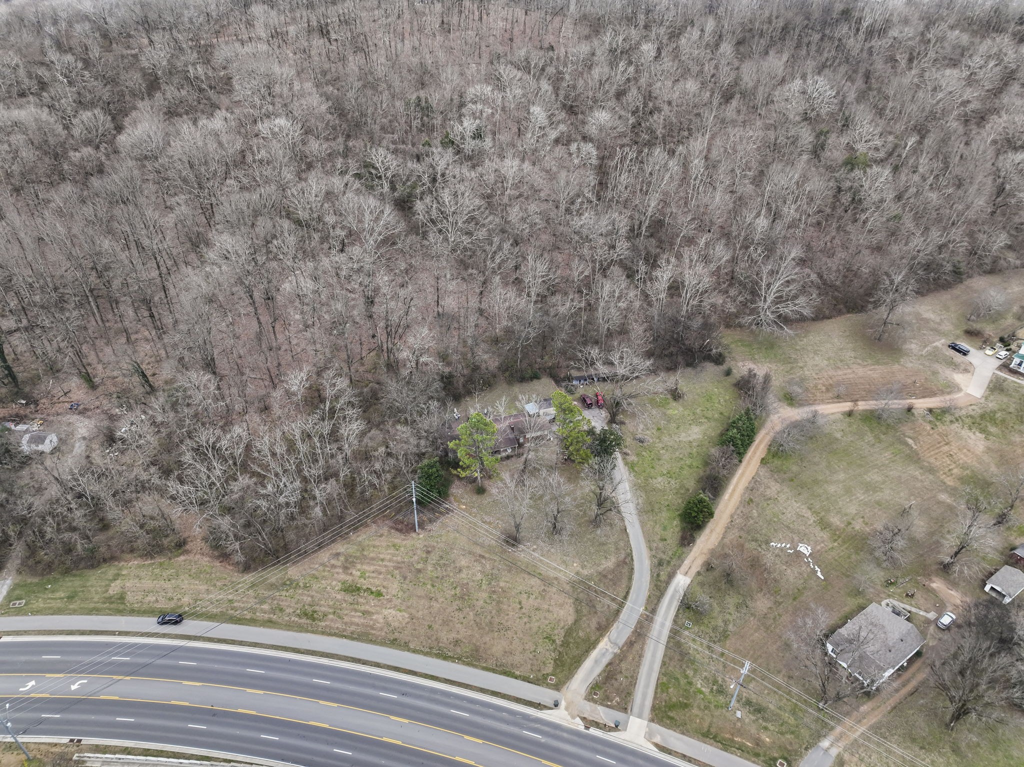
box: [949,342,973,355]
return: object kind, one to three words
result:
vehicle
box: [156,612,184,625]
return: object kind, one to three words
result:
vehicle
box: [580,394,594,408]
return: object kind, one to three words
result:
car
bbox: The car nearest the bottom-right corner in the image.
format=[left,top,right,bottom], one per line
[937,611,956,631]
